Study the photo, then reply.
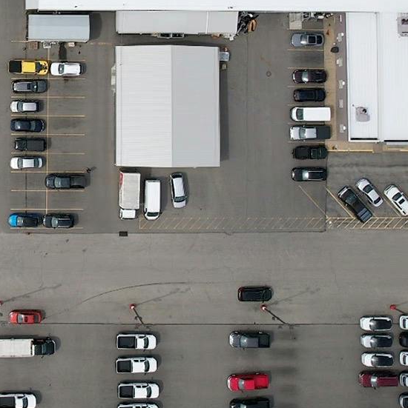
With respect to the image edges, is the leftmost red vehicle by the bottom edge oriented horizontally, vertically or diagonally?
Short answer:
horizontally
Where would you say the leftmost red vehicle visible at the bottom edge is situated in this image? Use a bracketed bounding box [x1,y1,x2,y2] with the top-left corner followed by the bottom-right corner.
[226,373,270,393]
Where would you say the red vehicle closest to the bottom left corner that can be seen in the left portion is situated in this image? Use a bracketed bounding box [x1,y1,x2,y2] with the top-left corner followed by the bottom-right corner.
[9,310,42,324]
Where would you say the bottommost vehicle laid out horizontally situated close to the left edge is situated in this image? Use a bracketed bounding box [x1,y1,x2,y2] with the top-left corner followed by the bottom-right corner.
[0,392,36,408]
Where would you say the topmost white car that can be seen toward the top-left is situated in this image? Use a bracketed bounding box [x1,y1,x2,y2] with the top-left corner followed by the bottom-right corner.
[49,61,82,76]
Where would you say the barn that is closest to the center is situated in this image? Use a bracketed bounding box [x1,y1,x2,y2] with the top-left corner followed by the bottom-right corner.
[113,45,220,165]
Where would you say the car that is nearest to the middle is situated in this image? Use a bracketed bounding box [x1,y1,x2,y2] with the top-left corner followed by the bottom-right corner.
[169,172,186,208]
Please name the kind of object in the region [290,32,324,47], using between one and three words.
car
